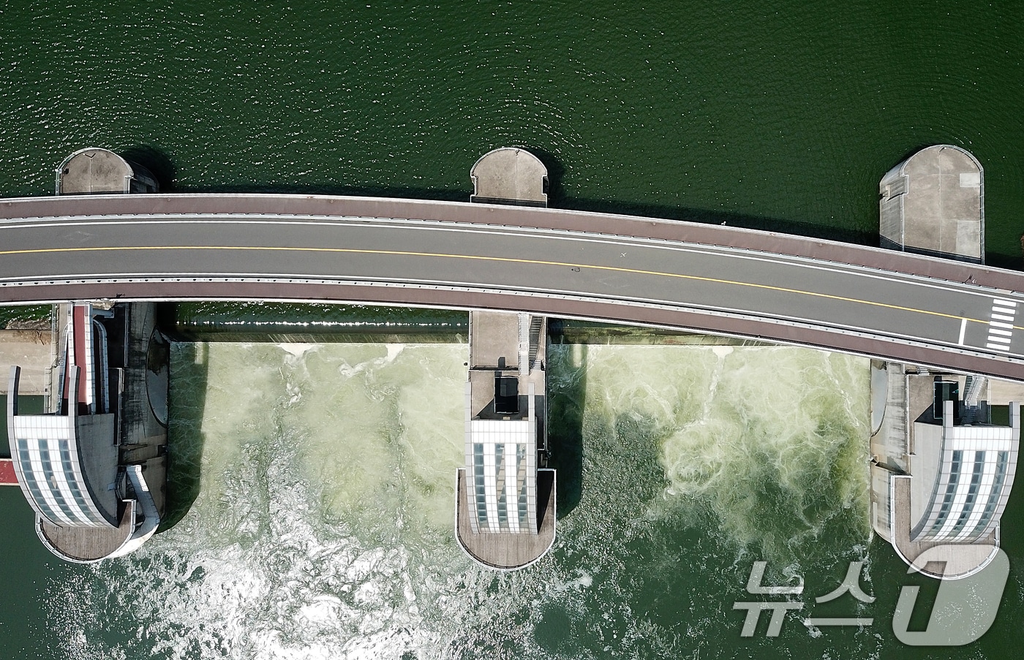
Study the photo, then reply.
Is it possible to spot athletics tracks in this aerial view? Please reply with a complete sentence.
No, there is no athletics track in the image.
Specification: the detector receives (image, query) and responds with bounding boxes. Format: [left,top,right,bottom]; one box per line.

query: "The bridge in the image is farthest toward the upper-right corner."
[0,193,1024,384]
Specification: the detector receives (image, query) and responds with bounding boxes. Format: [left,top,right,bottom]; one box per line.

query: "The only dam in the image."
[0,146,1024,576]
